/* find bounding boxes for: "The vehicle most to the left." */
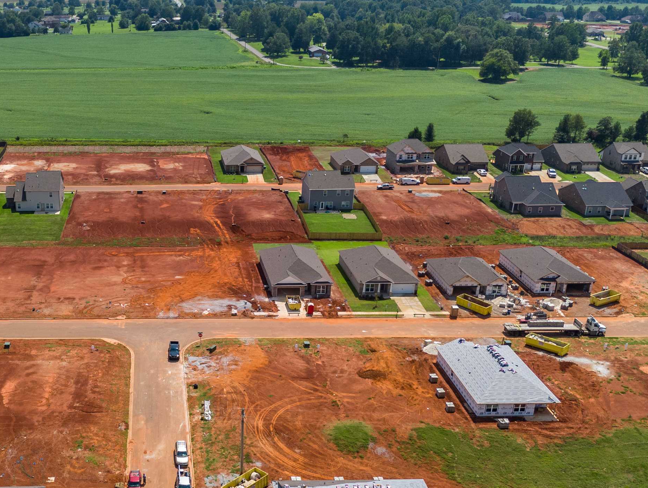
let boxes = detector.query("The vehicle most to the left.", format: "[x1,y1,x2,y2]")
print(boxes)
[126,466,143,488]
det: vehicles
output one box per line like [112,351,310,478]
[476,169,491,176]
[126,466,143,488]
[450,176,471,184]
[167,341,181,358]
[518,306,545,322]
[175,466,193,488]
[173,438,190,463]
[376,181,395,188]
[499,313,601,335]
[545,169,559,177]
[399,177,418,185]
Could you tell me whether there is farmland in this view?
Yes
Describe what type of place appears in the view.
residential area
